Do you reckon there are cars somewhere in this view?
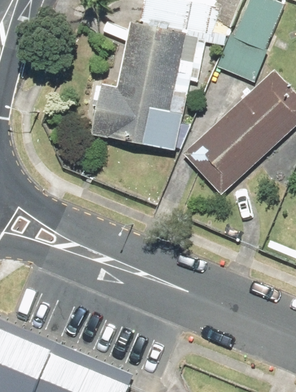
Yes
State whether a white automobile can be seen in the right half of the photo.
Yes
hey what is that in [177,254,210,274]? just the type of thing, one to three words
car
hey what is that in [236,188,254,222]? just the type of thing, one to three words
car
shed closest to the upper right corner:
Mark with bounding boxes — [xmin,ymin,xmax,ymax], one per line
[219,0,286,84]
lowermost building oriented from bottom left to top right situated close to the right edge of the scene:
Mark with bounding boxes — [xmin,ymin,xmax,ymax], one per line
[184,69,296,196]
